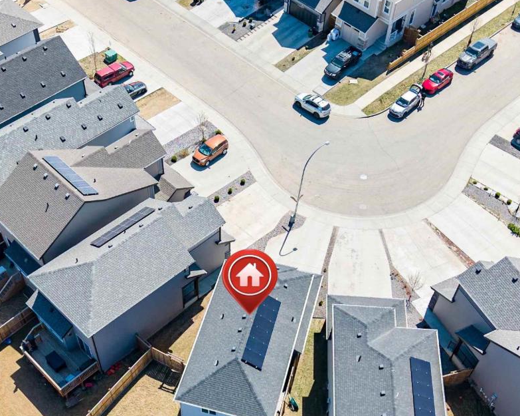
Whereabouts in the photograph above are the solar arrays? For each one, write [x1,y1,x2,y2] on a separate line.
[91,207,154,248]
[43,156,98,194]
[241,295,281,370]
[409,358,435,416]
